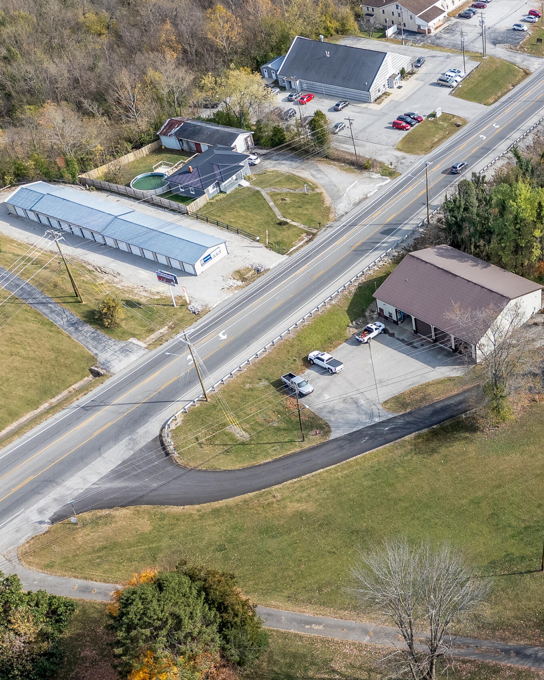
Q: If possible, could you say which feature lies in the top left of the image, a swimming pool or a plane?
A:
swimming pool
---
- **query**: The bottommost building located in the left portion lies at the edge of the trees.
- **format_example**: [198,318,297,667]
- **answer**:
[7,179,228,273]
